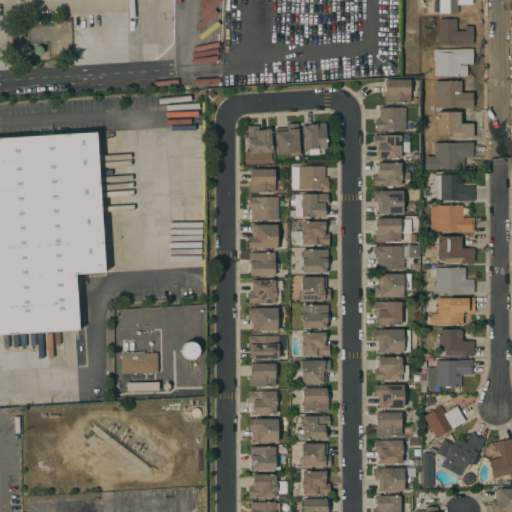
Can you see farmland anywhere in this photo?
No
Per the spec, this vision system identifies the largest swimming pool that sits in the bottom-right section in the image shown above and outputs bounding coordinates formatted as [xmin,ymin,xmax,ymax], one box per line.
[436,470,458,486]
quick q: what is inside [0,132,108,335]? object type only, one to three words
building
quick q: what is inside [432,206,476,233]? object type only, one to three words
house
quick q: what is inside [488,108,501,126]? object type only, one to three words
vehicle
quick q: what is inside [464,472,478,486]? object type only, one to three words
gazebo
